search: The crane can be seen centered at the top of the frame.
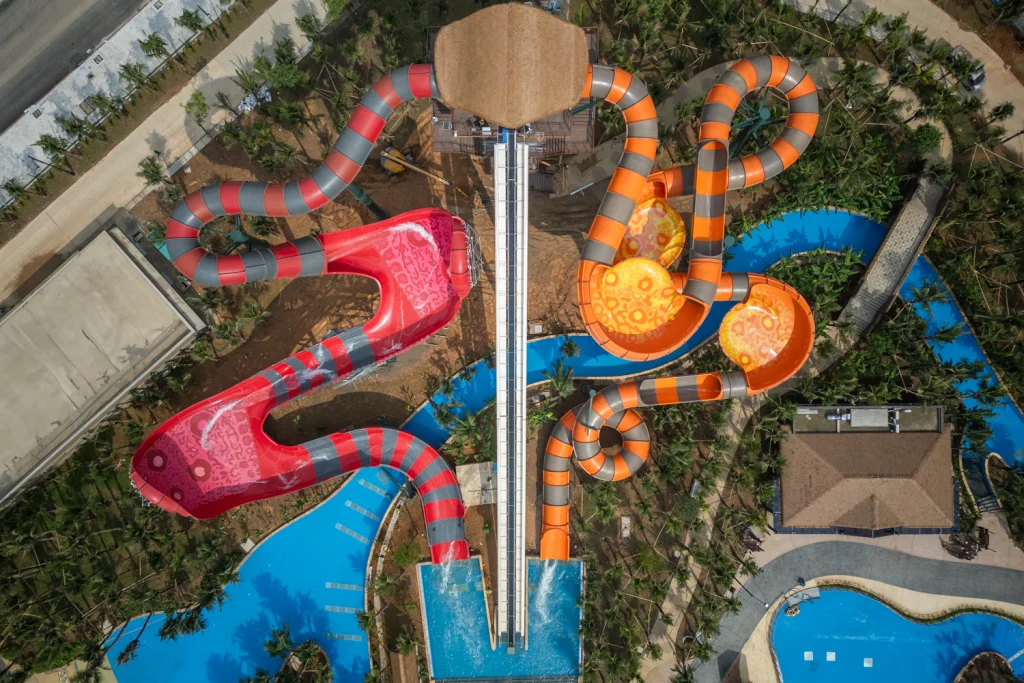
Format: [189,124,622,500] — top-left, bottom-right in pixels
[383,141,470,198]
